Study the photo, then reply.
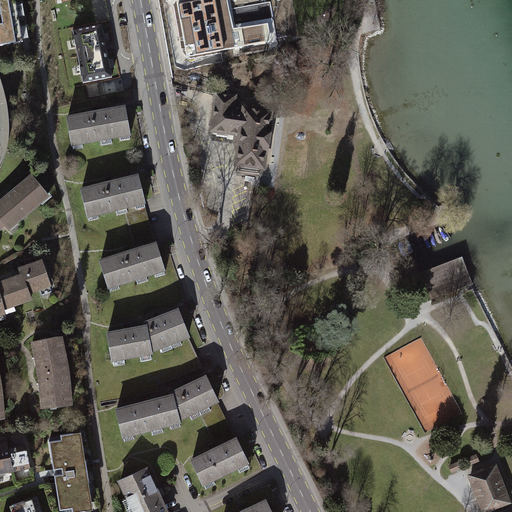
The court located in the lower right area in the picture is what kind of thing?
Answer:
tennis court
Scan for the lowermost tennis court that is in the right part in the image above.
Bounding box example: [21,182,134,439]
[384,336,462,433]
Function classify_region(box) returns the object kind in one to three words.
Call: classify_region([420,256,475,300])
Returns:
building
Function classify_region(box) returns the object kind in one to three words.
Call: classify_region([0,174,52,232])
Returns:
house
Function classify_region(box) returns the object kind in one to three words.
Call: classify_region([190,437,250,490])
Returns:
house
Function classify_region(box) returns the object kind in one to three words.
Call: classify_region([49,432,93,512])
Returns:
building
